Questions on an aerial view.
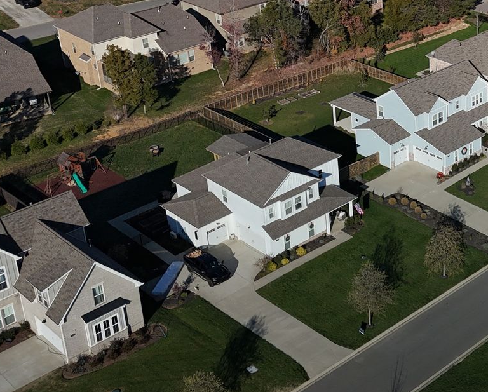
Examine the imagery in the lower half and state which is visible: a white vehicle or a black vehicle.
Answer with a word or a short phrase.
black vehicle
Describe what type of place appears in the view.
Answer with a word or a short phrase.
residential area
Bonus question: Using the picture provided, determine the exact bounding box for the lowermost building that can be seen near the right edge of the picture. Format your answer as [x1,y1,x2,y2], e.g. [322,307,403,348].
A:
[330,57,488,173]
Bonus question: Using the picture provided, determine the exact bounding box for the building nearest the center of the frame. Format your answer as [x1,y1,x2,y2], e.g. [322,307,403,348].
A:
[159,120,361,257]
